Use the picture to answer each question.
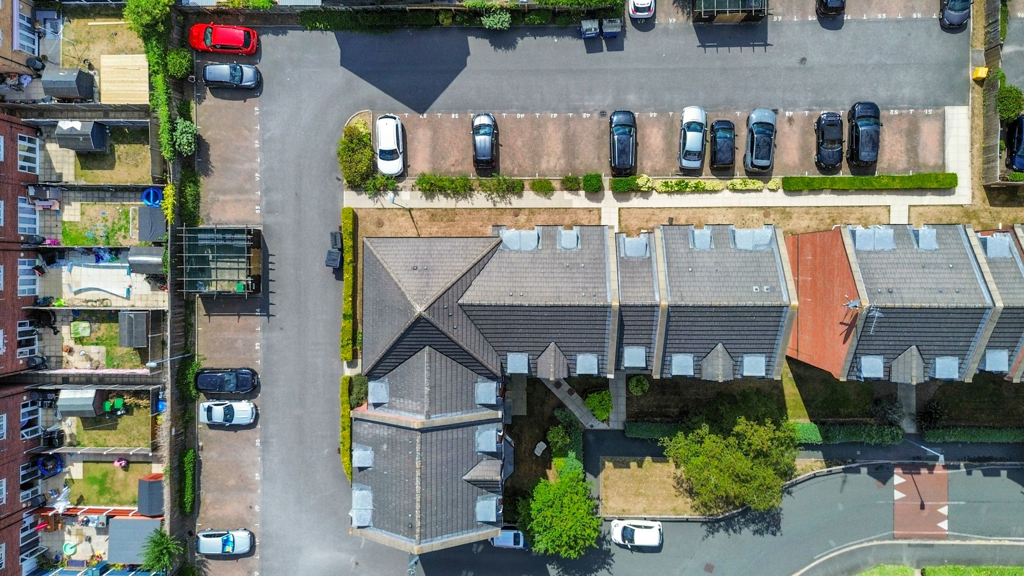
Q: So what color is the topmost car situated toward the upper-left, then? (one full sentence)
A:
The color of the topmost car situated toward the upper-left is red.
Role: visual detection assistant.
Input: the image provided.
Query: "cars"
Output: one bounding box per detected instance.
[628,0,655,19]
[845,101,884,168]
[709,120,739,170]
[1000,113,1024,172]
[814,0,845,17]
[676,106,710,171]
[203,60,261,90]
[814,113,847,170]
[469,113,500,170]
[483,524,540,557]
[743,109,779,173]
[197,527,254,559]
[192,21,257,56]
[936,0,974,29]
[199,399,258,428]
[196,367,259,397]
[611,519,662,549]
[374,115,405,177]
[608,110,640,176]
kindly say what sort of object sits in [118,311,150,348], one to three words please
shed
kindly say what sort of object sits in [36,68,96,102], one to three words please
shed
